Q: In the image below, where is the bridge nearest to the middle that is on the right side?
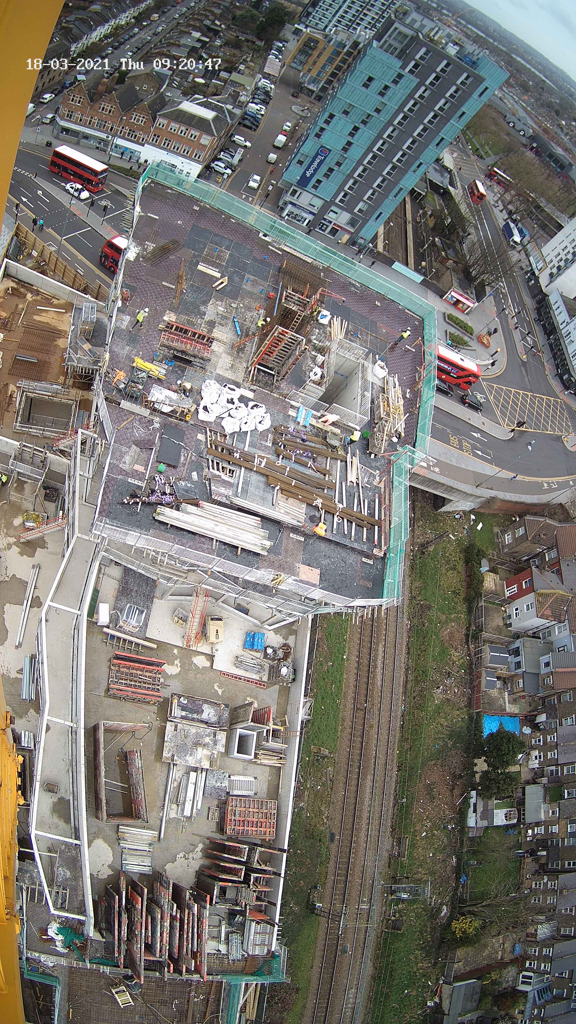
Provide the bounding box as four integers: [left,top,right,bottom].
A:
[390,464,490,514]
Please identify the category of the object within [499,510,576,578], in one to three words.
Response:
house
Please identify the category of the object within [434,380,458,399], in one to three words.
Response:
car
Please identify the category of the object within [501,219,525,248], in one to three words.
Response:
truck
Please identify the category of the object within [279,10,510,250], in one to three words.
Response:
building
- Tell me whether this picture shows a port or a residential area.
residential area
